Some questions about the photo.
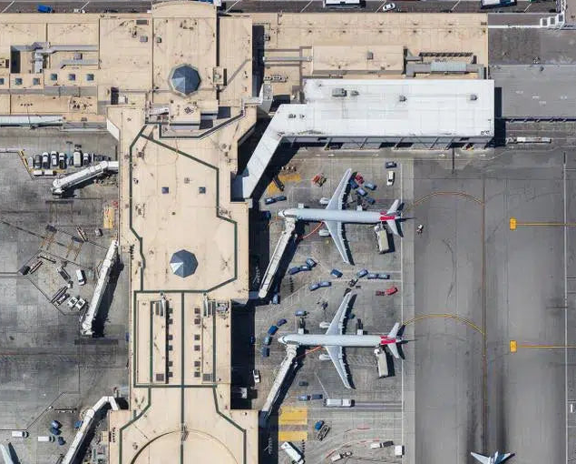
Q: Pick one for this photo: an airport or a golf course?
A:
airport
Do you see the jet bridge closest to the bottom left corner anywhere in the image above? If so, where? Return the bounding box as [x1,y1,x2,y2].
[60,393,123,464]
